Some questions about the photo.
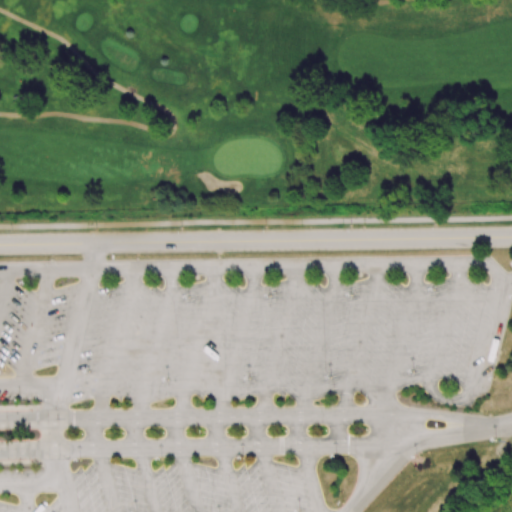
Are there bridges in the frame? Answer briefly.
No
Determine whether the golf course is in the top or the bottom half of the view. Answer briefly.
top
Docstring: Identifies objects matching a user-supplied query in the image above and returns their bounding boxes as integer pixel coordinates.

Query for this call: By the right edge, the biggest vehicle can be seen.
[487,328,502,362]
